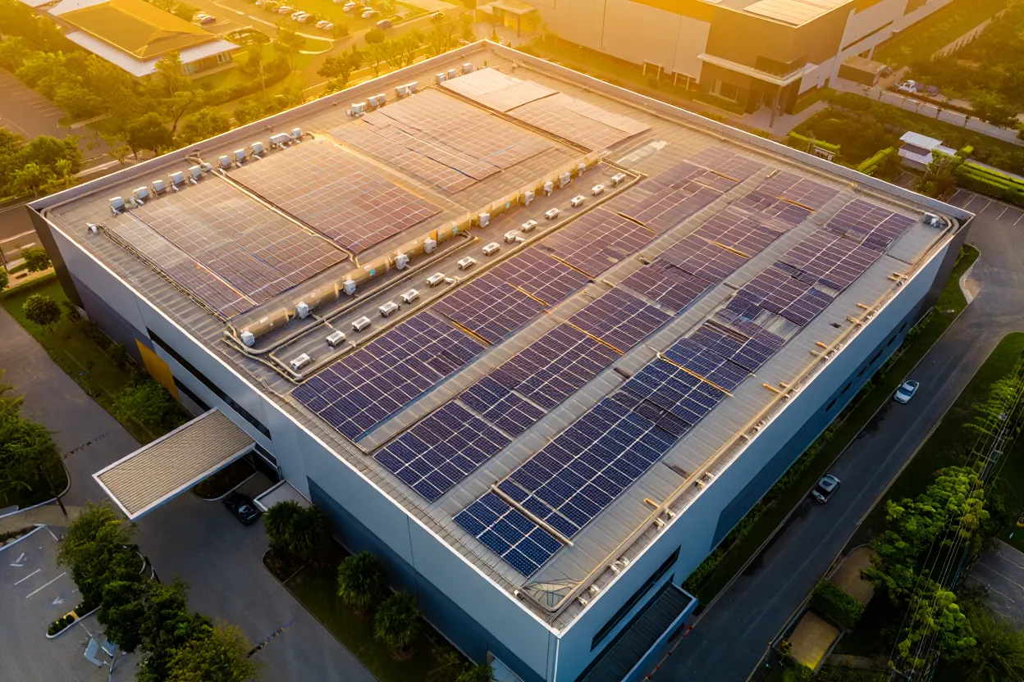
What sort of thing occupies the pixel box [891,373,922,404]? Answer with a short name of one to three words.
car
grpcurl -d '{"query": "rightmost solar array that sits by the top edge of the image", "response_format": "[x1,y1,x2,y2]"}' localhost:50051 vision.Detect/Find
[744,0,838,25]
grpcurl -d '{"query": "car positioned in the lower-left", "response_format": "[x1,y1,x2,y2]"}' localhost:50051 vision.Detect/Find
[217,493,263,531]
